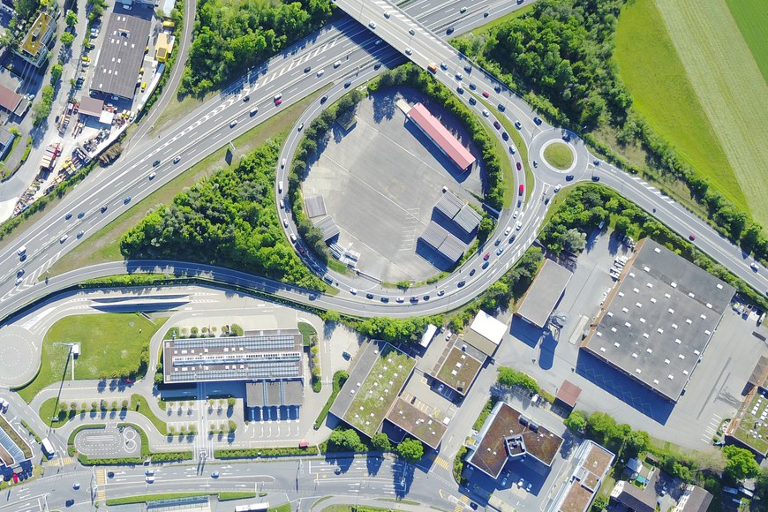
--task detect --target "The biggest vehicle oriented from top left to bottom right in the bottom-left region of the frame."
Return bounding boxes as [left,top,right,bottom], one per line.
[41,438,54,455]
